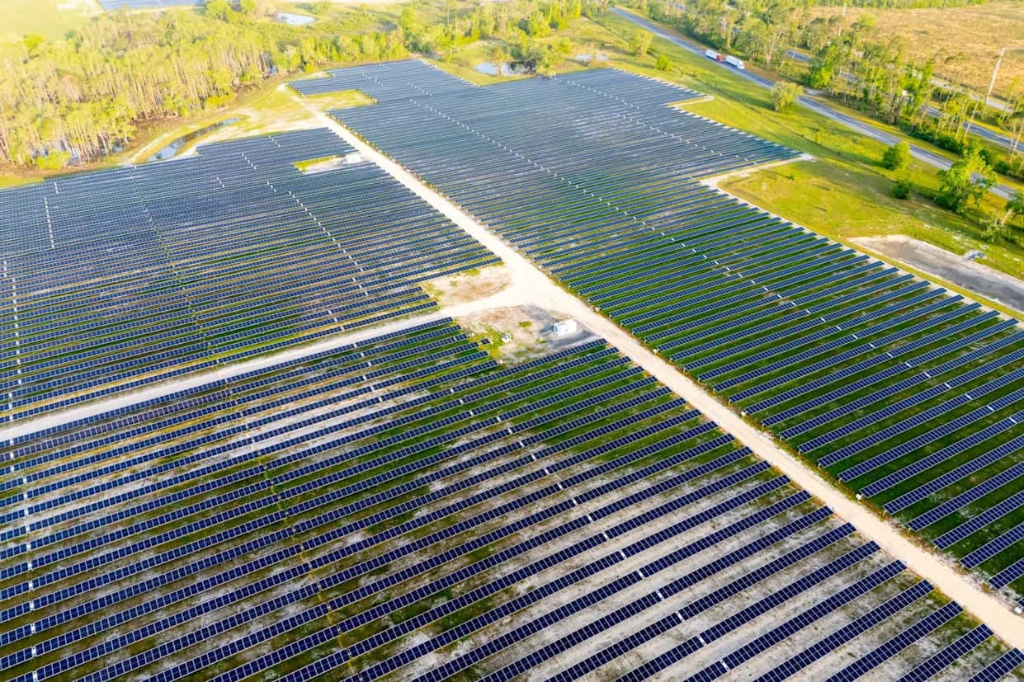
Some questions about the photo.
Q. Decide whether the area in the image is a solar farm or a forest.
solar farm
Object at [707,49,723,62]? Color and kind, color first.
white vehicle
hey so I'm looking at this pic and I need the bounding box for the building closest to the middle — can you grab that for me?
[554,316,579,335]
